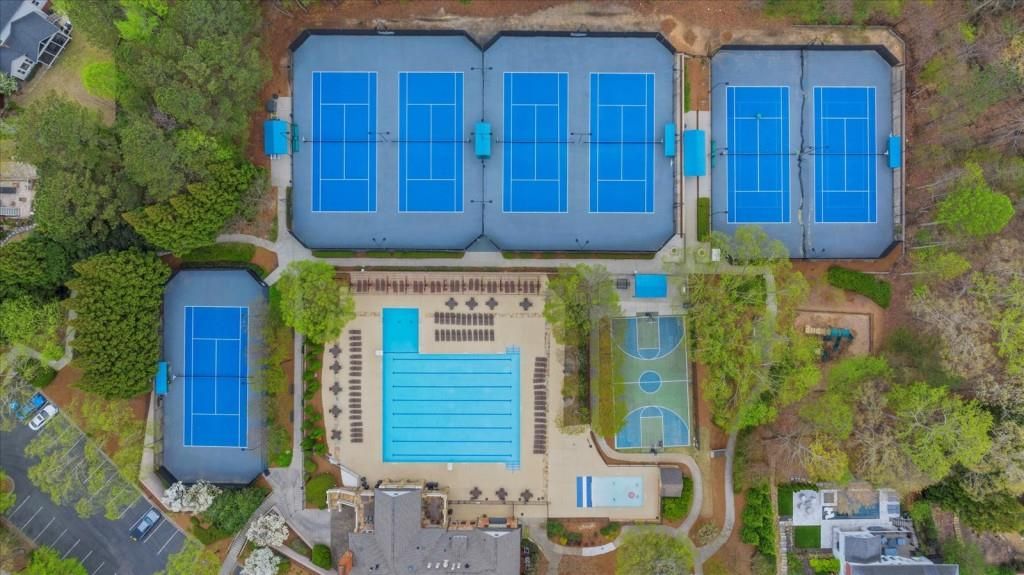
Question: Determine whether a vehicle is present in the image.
Yes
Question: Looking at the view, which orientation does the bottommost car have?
on a diagonal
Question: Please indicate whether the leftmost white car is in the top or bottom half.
bottom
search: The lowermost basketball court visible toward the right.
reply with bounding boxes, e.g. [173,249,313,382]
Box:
[609,315,691,452]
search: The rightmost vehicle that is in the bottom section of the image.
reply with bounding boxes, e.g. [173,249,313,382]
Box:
[132,511,162,540]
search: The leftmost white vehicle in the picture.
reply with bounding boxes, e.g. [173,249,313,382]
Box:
[28,403,59,430]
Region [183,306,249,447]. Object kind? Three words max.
tennis court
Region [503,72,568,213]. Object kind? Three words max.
tennis court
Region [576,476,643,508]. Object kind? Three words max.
swimming pool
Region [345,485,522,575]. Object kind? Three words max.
building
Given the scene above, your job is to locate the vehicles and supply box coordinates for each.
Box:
[28,403,59,430]
[13,389,47,419]
[132,511,162,540]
